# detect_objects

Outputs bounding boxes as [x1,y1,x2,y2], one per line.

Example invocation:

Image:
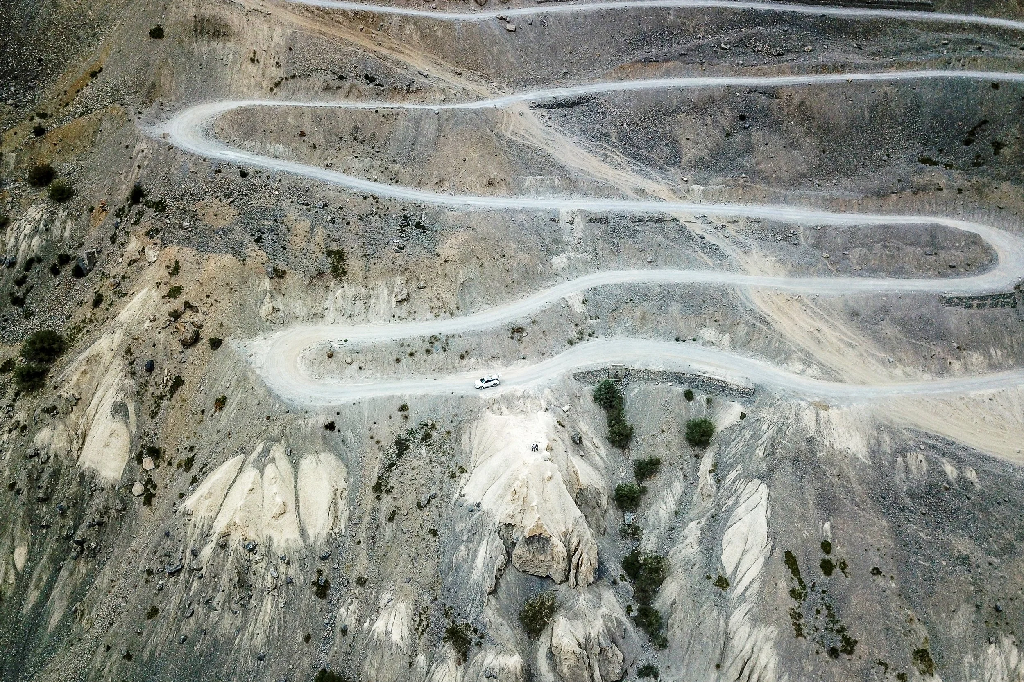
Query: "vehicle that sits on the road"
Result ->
[474,371,505,390]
